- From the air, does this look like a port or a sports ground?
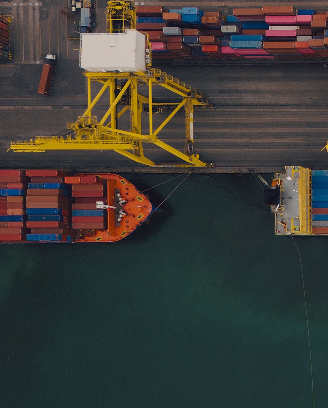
port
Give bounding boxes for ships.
[0,173,165,244]
[265,168,328,237]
